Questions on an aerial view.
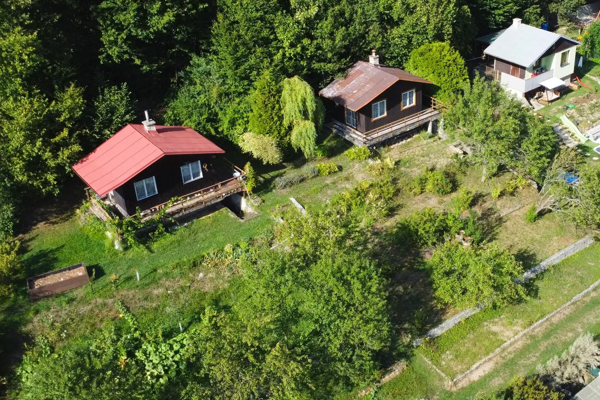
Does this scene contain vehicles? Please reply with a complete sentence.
No, there isn't any vehicle down there.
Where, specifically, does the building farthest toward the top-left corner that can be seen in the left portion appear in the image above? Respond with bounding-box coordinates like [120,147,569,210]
[72,102,267,242]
